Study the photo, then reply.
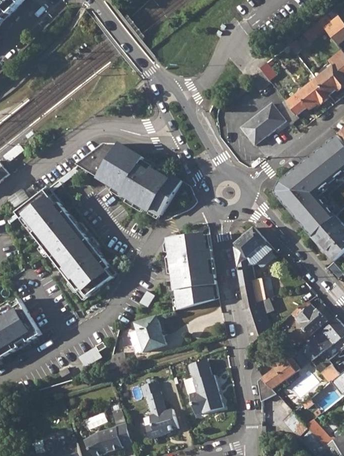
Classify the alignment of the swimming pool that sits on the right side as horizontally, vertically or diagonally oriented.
diagonally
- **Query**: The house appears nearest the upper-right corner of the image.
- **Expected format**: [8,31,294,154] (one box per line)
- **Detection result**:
[324,14,344,44]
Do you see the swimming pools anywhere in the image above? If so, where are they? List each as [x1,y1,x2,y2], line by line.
[132,386,142,400]
[314,386,342,411]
